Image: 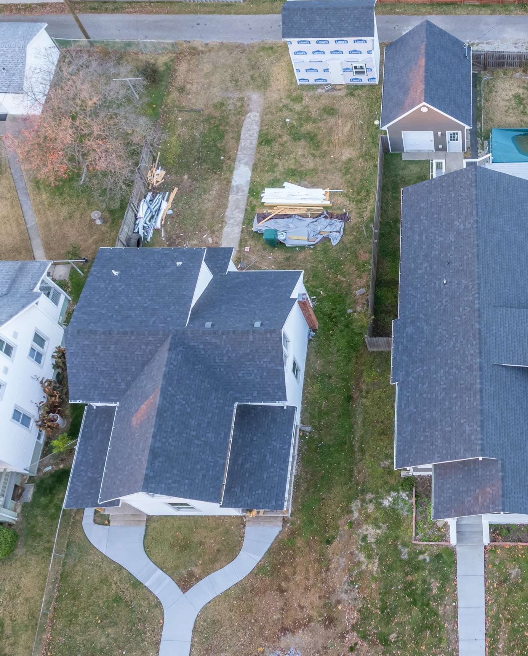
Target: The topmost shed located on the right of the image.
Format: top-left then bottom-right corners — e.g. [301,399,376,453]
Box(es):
[281,0,381,85]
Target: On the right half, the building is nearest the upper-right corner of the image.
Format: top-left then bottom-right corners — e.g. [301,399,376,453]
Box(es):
[379,19,473,153]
